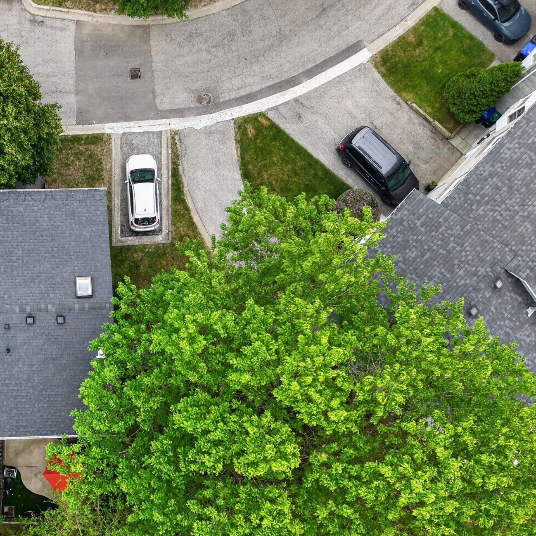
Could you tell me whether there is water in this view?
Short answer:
No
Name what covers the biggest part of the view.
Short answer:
trees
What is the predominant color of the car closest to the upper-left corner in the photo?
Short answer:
white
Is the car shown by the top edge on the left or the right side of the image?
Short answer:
right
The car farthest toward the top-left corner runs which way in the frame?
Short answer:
up and down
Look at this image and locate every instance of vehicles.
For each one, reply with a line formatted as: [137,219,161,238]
[123,154,162,233]
[333,116,414,210]
[458,0,536,46]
